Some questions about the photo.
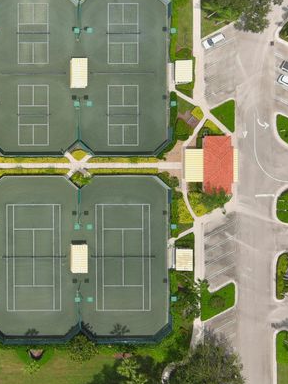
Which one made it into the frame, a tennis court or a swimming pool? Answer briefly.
tennis court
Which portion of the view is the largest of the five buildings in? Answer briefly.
right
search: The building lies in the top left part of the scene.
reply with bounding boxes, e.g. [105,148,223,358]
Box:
[70,59,87,89]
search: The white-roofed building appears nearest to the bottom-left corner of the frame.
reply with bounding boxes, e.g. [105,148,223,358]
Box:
[70,244,87,273]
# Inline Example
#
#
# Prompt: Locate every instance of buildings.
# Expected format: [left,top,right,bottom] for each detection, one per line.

[70,244,87,273]
[181,135,238,197]
[70,59,87,89]
[172,60,192,85]
[172,248,192,271]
